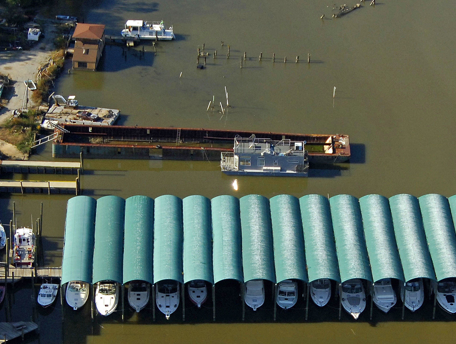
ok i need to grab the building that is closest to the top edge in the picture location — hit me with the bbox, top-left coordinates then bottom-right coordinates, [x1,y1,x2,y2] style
[71,20,105,73]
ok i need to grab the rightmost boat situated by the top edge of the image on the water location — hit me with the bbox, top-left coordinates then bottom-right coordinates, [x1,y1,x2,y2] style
[123,9,178,41]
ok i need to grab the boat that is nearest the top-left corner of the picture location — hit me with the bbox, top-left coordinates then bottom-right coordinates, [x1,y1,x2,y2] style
[28,22,40,42]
